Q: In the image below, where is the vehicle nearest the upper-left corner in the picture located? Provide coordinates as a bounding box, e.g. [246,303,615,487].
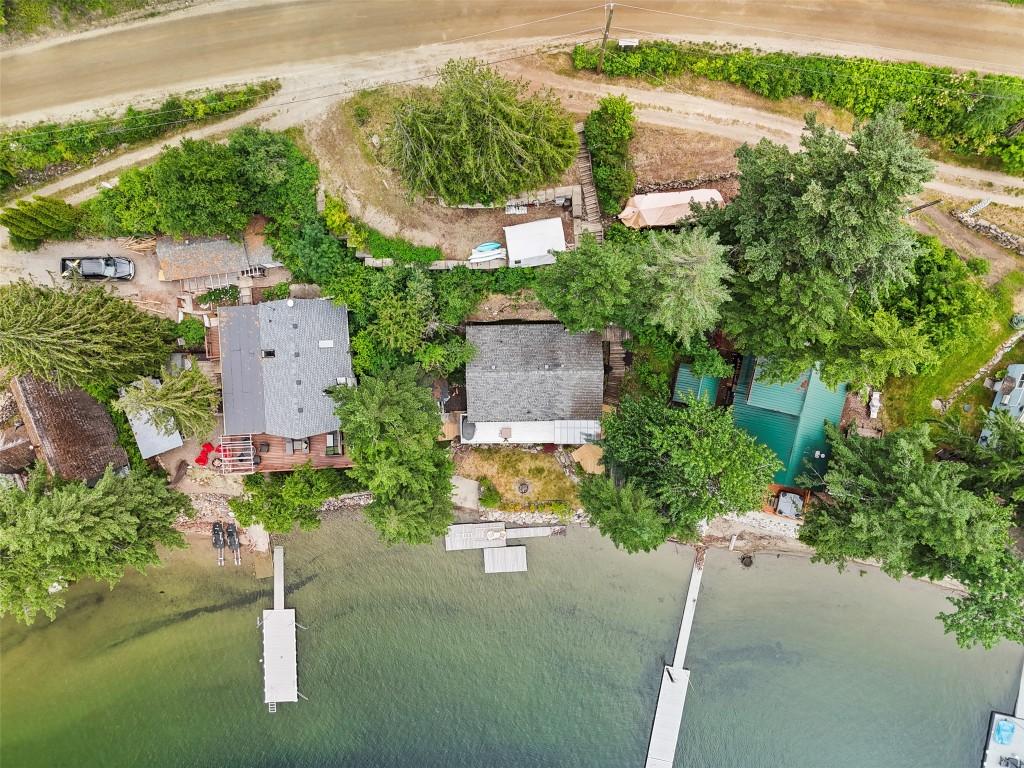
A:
[61,251,134,282]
